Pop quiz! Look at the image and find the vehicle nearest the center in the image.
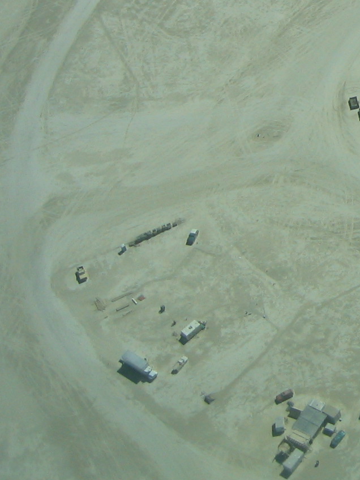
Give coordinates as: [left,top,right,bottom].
[187,230,199,246]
